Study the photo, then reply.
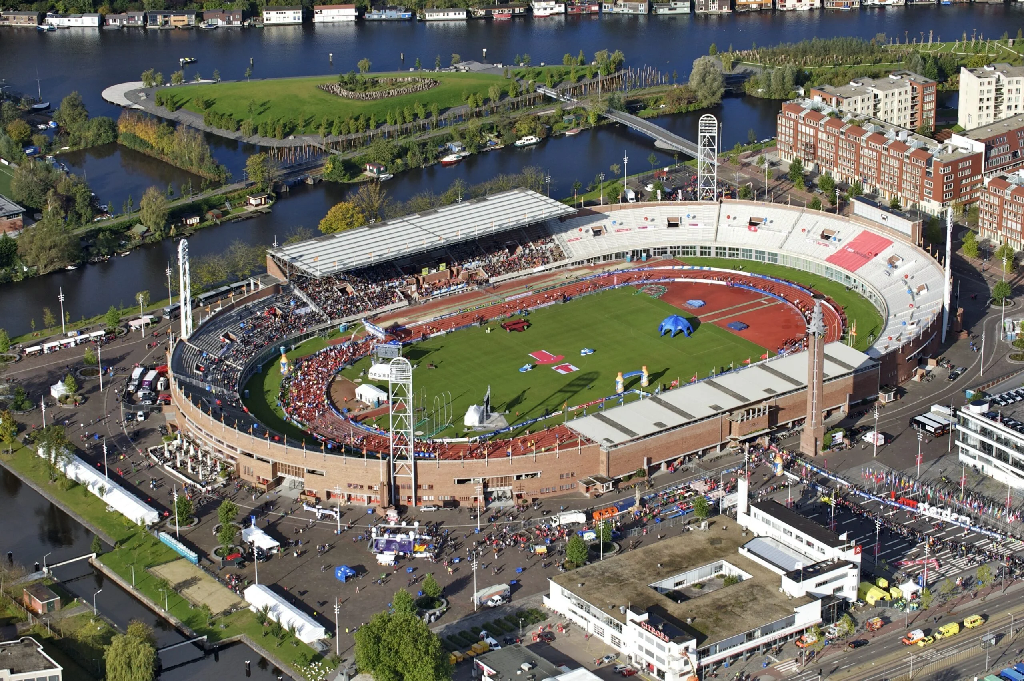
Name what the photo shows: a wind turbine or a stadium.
stadium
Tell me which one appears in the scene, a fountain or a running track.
running track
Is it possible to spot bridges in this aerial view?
Yes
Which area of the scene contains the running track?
center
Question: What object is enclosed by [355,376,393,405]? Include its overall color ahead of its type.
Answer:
white tent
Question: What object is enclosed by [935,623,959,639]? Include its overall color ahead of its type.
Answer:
yellow vehicle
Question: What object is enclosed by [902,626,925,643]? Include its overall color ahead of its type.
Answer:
white vehicle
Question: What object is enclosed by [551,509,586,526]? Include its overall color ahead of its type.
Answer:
white vehicle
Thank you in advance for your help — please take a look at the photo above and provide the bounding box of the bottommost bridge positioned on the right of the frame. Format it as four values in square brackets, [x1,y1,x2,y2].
[599,109,723,165]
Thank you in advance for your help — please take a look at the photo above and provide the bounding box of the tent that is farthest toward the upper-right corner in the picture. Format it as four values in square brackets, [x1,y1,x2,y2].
[657,309,695,336]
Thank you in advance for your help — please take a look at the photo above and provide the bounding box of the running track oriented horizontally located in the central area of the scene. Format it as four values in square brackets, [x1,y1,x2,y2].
[293,269,838,454]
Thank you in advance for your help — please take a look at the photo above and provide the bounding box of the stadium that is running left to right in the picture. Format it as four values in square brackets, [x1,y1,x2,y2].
[168,188,946,510]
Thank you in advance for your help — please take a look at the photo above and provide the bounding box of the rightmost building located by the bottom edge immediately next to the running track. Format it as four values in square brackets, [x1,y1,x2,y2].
[548,478,862,681]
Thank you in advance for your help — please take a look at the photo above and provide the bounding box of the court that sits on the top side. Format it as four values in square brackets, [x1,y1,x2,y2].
[634,162,707,199]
